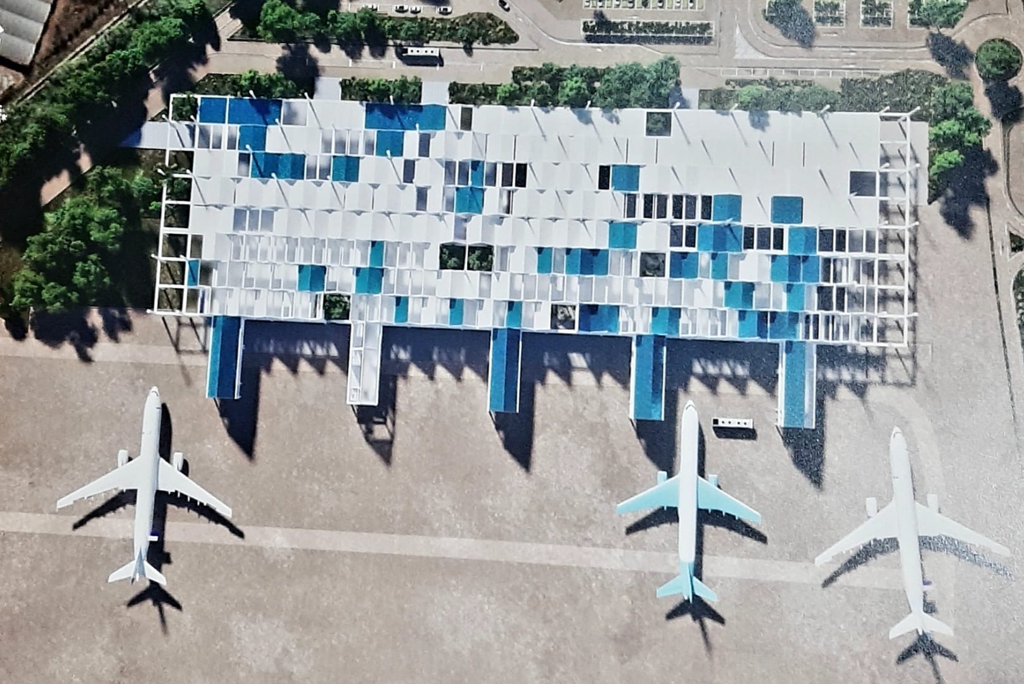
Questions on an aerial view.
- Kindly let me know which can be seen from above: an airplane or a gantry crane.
airplane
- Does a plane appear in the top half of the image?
No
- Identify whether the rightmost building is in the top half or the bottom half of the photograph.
top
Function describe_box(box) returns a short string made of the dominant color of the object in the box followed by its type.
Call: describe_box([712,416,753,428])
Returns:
white vehicle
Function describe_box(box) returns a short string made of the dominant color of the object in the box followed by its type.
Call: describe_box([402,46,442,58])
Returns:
white vehicle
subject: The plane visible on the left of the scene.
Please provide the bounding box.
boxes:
[53,387,229,587]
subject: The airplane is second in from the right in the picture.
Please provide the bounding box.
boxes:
[617,401,765,605]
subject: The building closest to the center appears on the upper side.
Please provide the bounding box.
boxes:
[145,91,920,345]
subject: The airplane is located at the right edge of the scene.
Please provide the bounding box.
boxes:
[814,427,1012,640]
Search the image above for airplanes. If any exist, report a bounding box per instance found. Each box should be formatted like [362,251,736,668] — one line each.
[617,401,765,605]
[814,427,1012,640]
[53,387,229,587]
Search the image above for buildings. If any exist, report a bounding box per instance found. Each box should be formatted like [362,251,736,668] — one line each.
[145,91,920,345]
[0,0,62,70]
